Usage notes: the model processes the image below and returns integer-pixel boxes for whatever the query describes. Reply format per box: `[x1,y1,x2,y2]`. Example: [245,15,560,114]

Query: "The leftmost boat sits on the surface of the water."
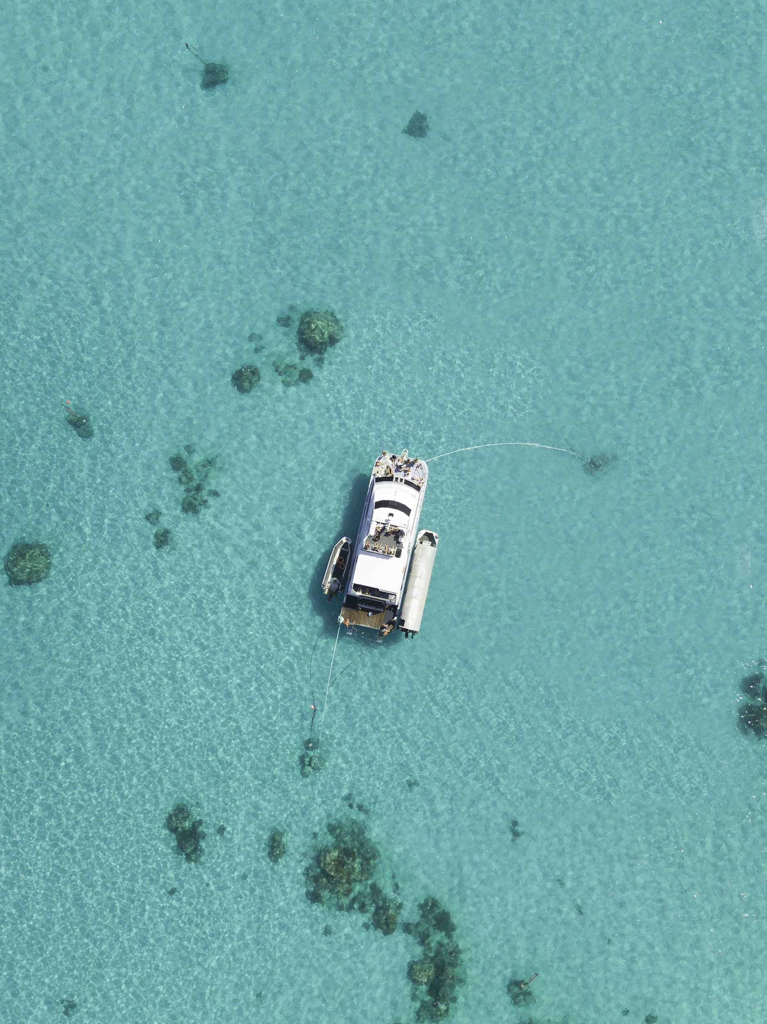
[322,537,354,601]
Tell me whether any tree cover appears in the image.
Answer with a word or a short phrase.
No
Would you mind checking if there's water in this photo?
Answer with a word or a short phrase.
Yes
